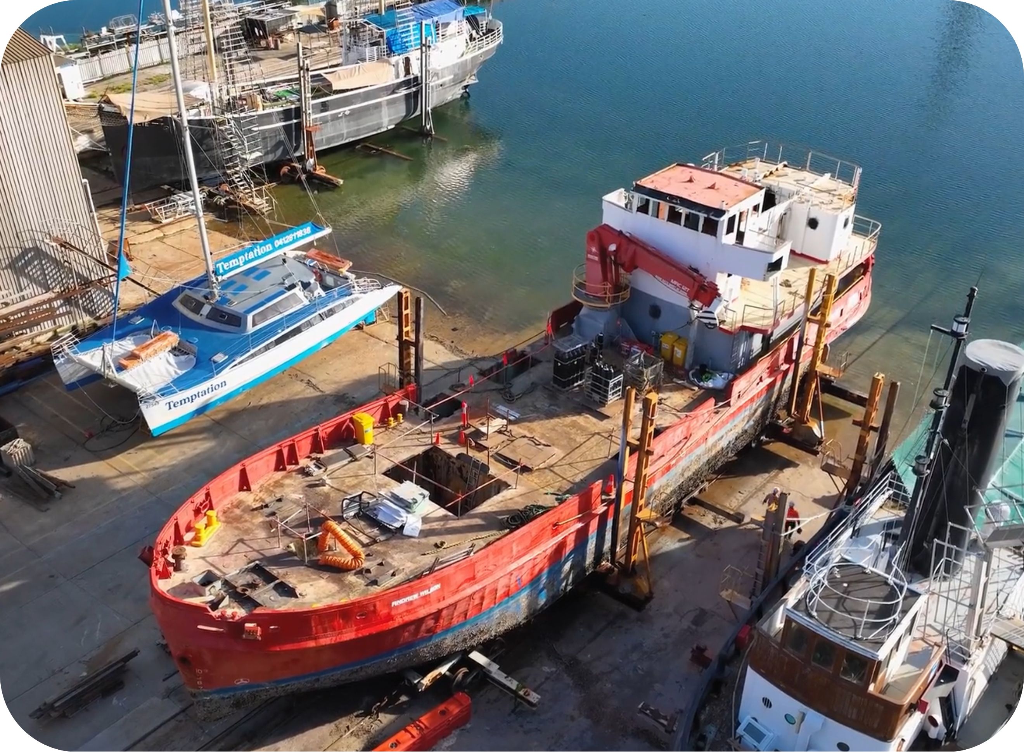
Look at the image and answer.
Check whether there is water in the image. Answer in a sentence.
Yes, water shows up in the scene.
